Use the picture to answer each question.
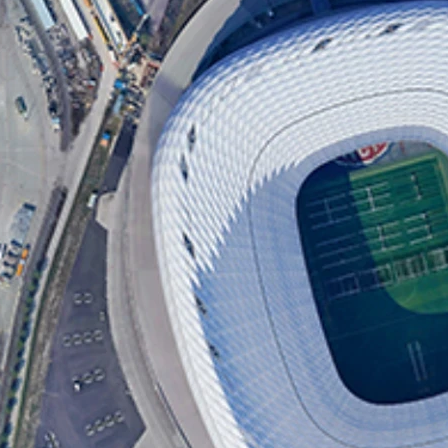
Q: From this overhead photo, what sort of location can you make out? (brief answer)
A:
sports ground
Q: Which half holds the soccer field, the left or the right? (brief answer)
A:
right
